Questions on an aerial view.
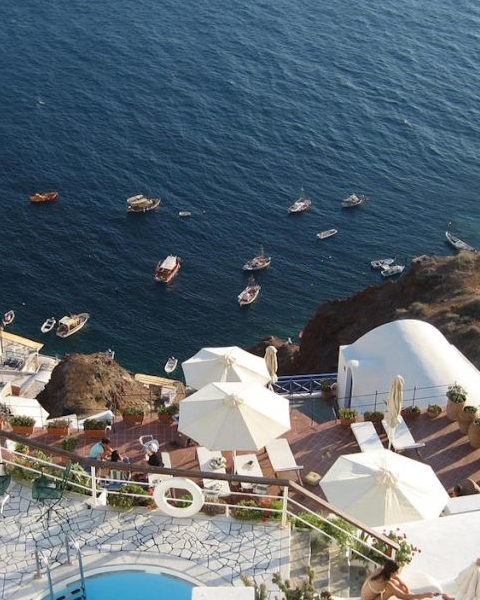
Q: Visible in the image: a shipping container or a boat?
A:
boat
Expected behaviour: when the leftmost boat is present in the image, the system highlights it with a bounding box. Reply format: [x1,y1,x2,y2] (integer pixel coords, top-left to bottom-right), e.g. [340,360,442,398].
[1,311,14,326]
